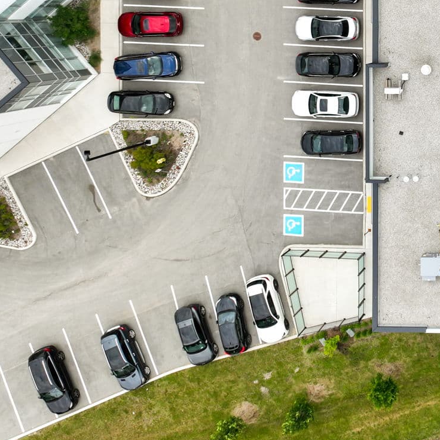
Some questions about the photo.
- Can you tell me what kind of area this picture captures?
parking lot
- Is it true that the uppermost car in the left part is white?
No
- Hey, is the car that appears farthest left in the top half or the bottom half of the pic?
bottom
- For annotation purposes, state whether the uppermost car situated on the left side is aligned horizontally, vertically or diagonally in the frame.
horizontally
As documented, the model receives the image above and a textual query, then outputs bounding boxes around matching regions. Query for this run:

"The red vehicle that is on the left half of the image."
[116,8,183,41]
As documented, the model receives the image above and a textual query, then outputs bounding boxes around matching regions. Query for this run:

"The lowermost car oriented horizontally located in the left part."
[105,88,175,120]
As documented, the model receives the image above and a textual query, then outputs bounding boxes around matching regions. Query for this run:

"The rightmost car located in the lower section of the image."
[246,276,289,344]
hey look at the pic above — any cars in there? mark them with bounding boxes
[293,49,361,80]
[116,8,183,41]
[294,0,361,7]
[105,88,175,120]
[291,88,360,121]
[300,128,362,160]
[246,276,289,344]
[173,302,218,368]
[97,325,149,393]
[28,347,78,416]
[110,50,182,81]
[209,293,255,361]
[294,12,360,44]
